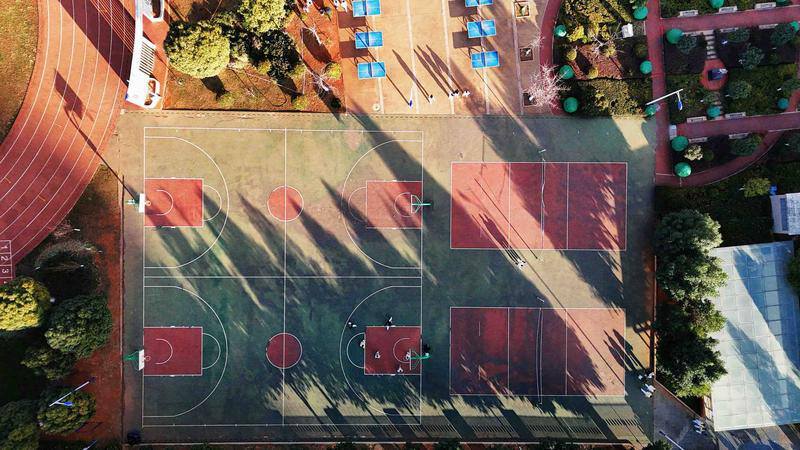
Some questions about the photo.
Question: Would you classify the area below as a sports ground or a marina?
sports ground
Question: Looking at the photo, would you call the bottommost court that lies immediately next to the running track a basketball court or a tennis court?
basketball court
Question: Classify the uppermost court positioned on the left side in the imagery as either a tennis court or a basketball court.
basketball court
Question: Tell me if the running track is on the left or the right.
left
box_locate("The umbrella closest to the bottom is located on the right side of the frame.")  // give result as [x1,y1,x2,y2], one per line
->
[670,161,692,180]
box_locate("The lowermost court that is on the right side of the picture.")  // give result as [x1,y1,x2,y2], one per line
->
[450,307,627,396]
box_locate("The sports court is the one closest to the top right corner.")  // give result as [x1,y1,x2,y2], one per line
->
[450,162,627,250]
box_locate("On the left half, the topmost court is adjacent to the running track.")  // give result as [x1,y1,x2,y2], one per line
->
[143,127,422,277]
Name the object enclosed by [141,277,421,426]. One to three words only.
basketball court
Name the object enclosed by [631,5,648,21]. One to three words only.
umbrella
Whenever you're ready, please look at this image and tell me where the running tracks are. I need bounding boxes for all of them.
[0,0,143,285]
